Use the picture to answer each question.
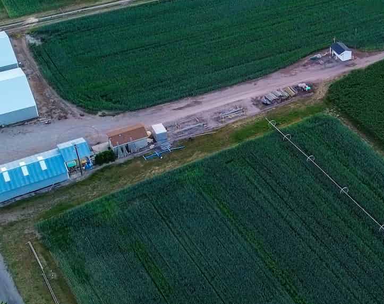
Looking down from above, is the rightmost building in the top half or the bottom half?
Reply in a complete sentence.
You can find the rightmost building in the top half.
